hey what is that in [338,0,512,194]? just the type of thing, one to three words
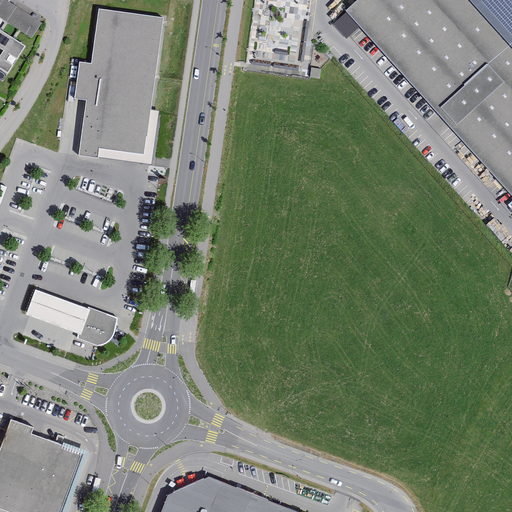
building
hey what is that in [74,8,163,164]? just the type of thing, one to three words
building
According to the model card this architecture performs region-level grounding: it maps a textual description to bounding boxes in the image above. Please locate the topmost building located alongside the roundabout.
[24,290,117,346]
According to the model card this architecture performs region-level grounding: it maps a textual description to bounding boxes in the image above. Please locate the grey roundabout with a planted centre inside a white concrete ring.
[106,364,190,448]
